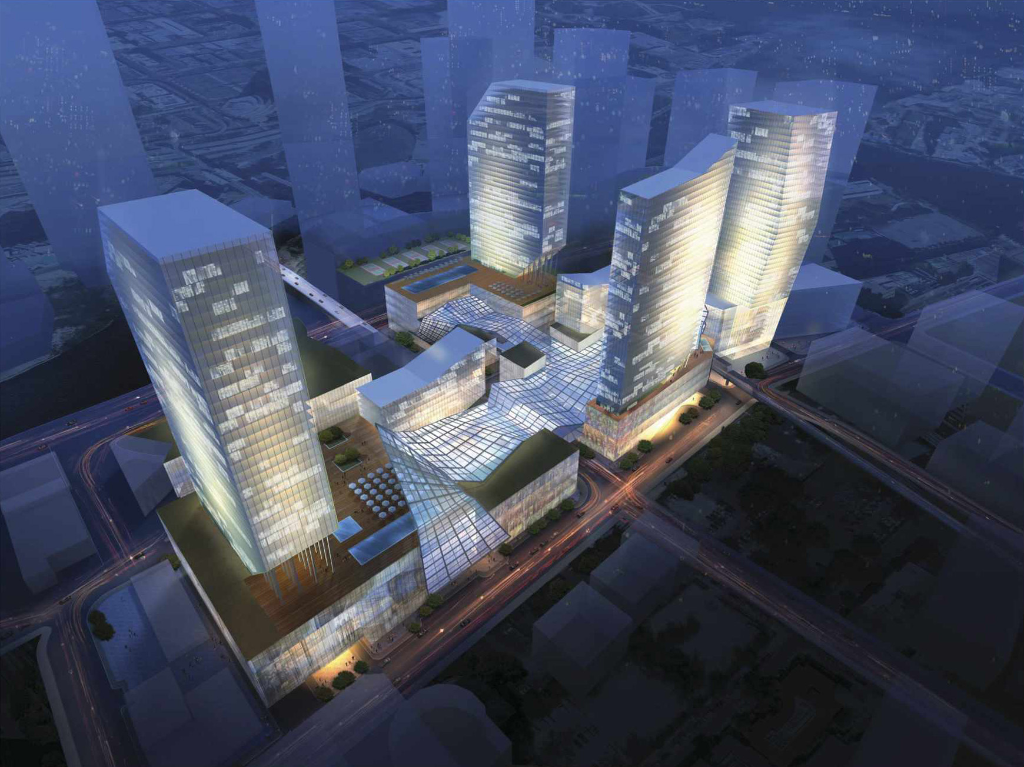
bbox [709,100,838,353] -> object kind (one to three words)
building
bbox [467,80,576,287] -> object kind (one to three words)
building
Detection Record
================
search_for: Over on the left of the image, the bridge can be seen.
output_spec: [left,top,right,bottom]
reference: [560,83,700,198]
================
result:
[281,268,406,354]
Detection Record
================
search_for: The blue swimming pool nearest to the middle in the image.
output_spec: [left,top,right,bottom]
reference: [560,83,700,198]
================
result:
[401,264,479,293]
